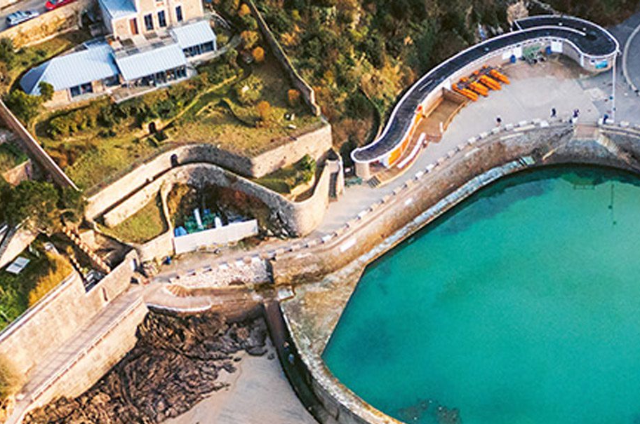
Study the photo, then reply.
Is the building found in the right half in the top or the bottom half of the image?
top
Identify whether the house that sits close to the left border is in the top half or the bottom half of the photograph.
top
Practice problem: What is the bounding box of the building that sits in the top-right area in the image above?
[350,13,619,181]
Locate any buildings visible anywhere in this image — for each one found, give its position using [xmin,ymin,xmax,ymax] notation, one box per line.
[350,13,619,181]
[19,0,217,113]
